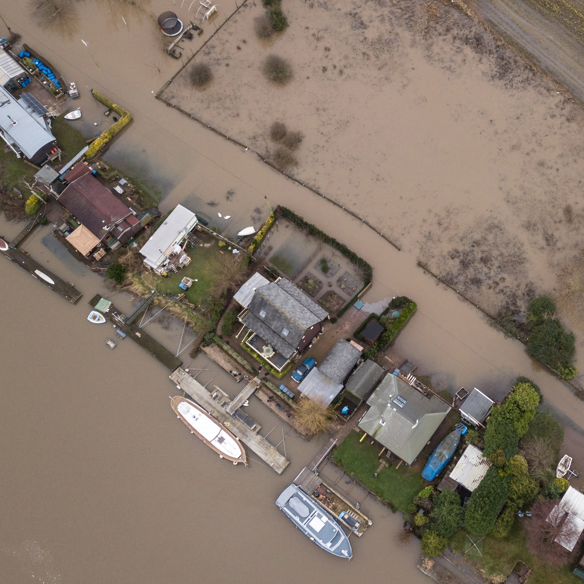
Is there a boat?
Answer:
Yes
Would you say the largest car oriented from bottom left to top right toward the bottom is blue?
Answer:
Yes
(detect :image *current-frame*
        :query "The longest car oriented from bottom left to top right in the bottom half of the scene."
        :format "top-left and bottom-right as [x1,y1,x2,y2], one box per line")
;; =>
[292,357,316,382]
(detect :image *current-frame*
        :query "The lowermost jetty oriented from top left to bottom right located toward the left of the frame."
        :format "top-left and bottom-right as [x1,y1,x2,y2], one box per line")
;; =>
[170,367,290,474]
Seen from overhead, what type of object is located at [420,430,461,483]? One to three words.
boat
